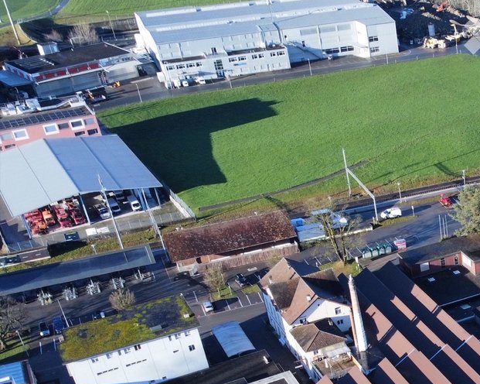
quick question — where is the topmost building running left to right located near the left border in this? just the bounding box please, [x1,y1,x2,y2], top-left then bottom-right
[0,39,145,102]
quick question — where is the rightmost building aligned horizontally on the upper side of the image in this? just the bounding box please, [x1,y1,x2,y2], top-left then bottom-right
[128,0,398,85]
